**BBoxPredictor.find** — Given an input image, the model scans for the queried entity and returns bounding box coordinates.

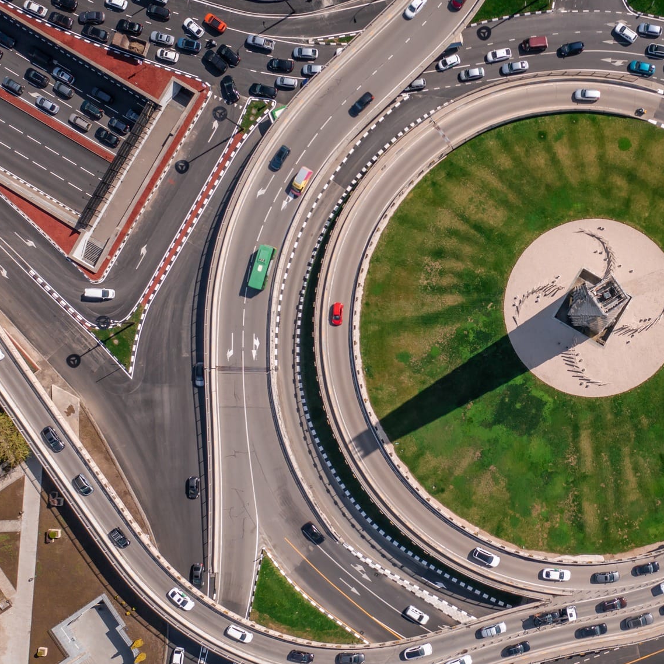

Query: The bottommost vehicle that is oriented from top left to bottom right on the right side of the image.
[405,606,428,624]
